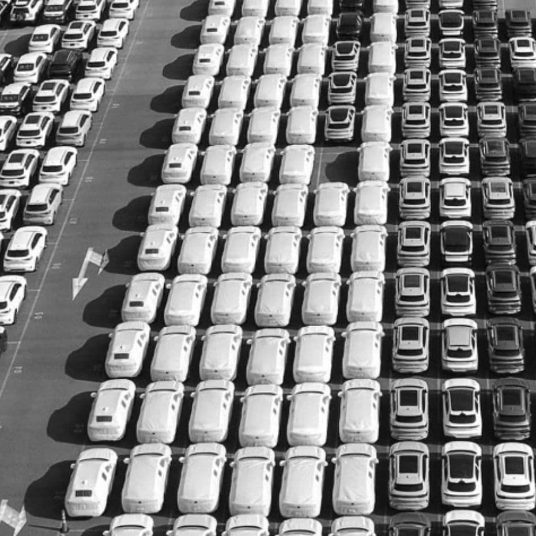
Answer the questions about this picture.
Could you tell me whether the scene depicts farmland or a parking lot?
parking lot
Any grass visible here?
No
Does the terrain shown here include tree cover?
No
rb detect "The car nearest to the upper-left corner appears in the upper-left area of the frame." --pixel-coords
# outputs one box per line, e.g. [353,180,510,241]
[10,0,46,26]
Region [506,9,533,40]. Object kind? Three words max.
car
